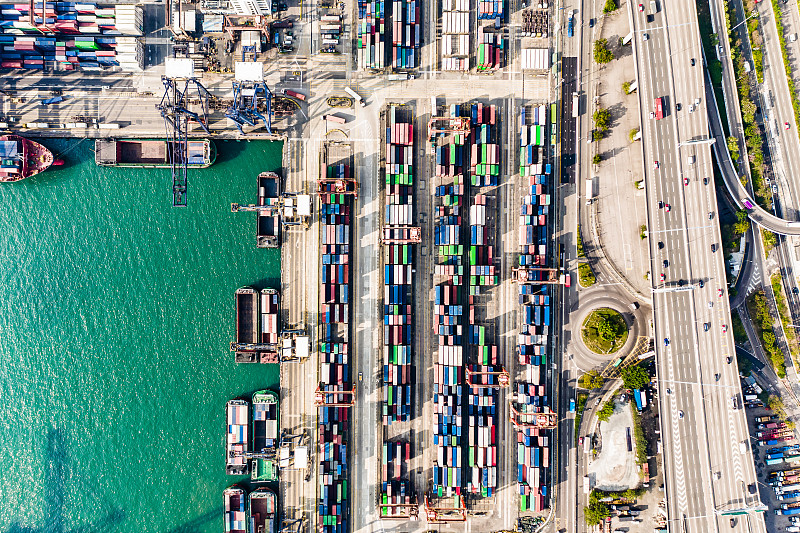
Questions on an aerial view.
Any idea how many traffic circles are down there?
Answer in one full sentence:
In total, 1 traffic circle can be seen.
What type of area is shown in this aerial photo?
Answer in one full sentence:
It's a port.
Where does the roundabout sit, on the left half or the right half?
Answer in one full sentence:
The roundabout is on the right side of the image.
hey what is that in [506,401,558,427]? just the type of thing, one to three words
container crane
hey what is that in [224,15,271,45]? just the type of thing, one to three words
container crane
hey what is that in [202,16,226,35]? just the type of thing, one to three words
shed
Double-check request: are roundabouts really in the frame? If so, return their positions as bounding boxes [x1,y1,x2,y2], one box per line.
[566,292,645,370]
